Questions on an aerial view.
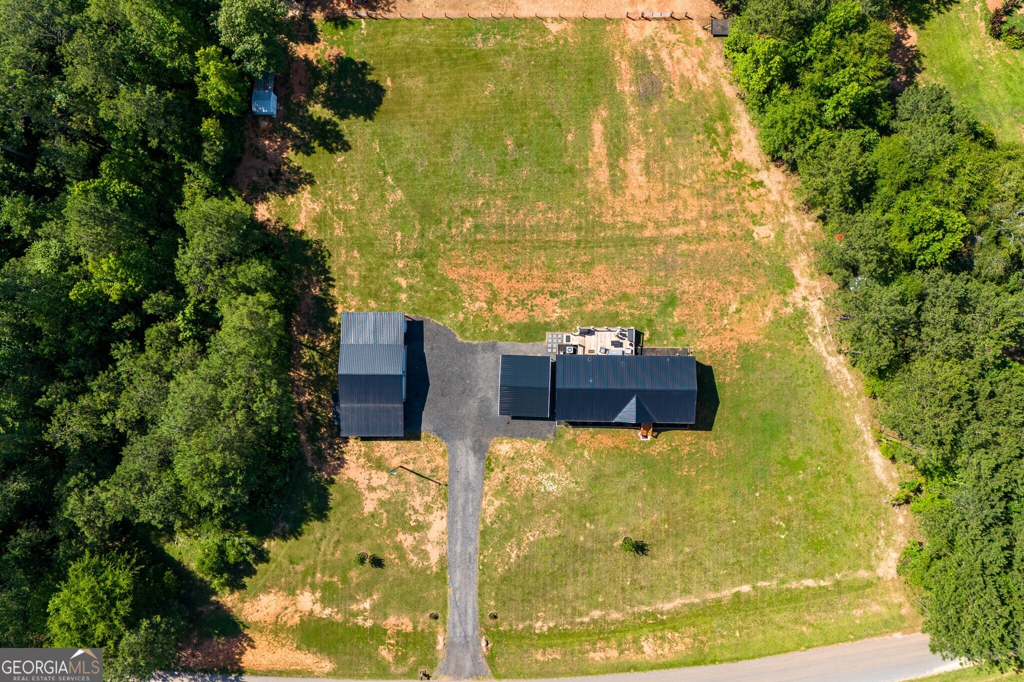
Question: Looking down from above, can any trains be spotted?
No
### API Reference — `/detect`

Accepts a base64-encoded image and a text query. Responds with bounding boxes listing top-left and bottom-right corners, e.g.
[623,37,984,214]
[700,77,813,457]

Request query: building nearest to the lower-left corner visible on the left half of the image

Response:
[338,312,406,436]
